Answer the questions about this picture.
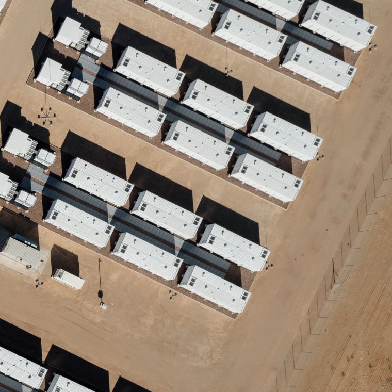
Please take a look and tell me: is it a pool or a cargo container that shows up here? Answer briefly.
cargo container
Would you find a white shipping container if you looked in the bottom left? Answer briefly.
Yes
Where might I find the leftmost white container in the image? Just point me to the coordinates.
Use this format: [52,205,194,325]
[0,349,46,390]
